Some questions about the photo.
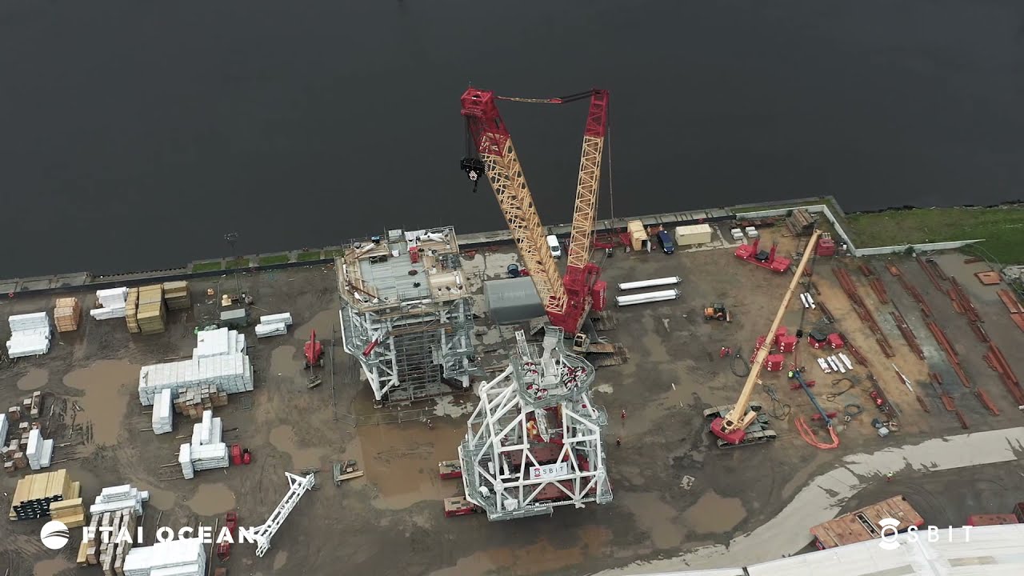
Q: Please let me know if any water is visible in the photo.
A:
Yes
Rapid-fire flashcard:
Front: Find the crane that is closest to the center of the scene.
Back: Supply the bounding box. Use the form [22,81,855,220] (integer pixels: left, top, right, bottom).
[461,80,624,358]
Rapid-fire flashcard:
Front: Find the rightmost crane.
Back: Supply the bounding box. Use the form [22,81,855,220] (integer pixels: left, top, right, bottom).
[703,223,825,450]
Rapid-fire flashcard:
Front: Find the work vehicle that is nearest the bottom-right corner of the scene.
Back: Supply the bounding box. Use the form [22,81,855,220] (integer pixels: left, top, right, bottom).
[702,298,738,320]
